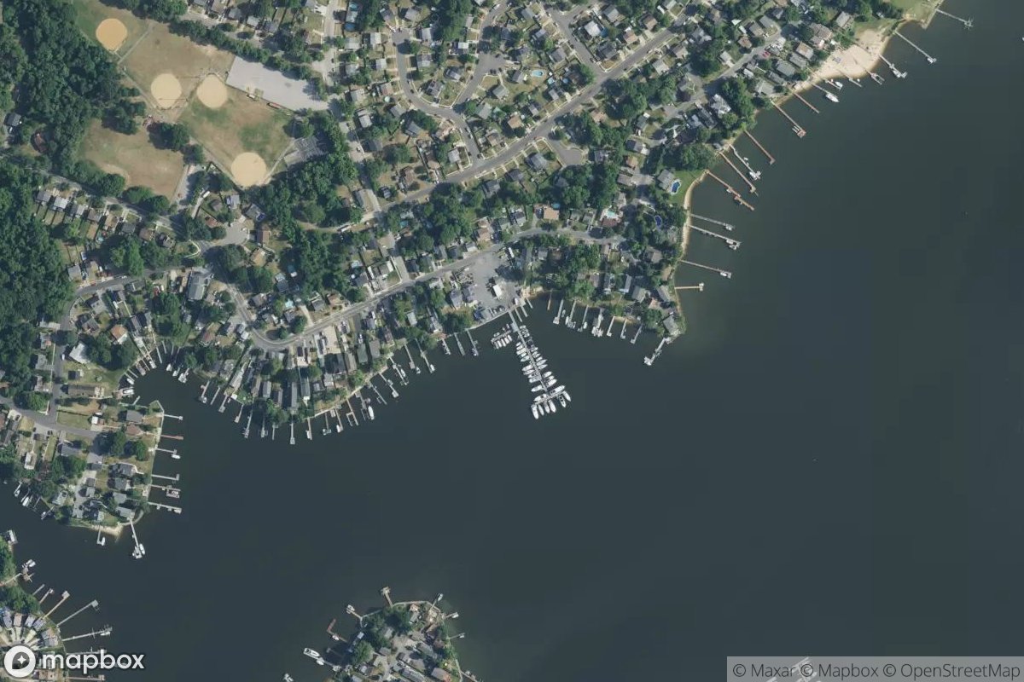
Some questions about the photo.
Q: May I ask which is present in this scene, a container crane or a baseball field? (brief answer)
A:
baseball field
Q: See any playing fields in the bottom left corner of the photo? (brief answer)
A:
No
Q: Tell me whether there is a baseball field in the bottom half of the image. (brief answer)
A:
No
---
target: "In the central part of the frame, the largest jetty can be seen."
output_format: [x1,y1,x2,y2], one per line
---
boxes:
[491,307,564,404]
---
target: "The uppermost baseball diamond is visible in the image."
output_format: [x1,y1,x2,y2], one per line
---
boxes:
[74,0,148,61]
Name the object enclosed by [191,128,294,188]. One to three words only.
baseball field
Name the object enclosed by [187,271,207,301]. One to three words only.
house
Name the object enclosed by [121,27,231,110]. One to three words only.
baseball field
